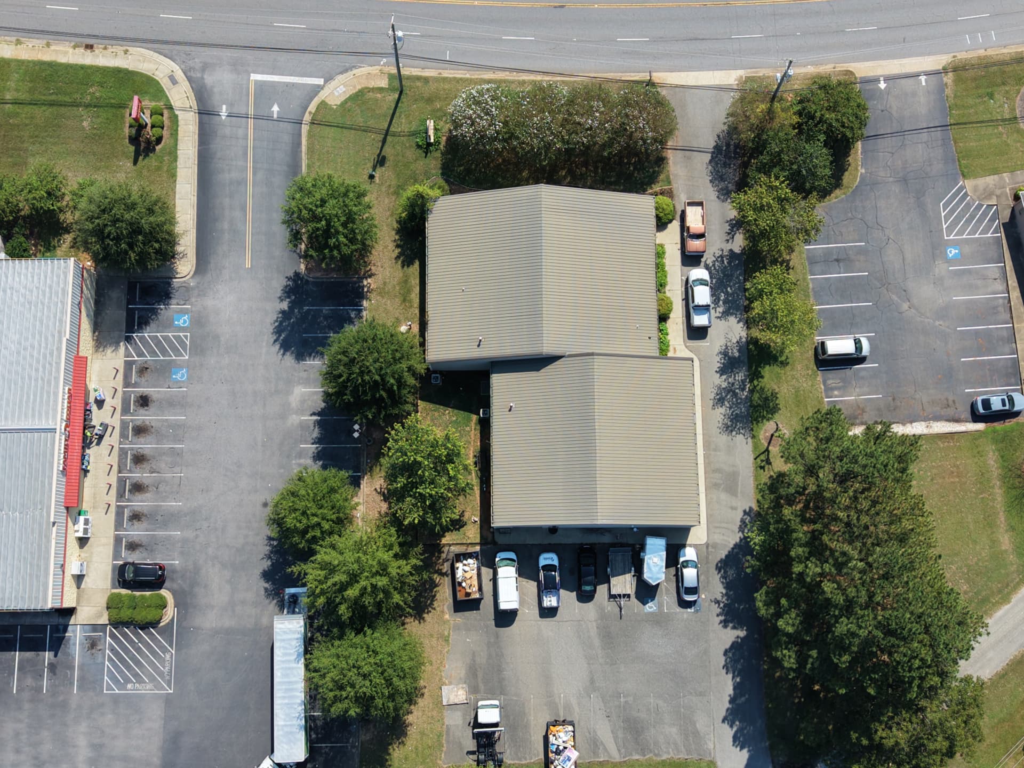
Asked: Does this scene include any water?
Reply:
No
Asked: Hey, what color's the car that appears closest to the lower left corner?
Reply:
black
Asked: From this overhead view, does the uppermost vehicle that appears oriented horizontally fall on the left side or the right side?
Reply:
right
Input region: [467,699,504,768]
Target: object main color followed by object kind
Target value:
white truck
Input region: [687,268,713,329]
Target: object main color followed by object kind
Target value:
white truck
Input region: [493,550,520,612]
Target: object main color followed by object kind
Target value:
white vehicle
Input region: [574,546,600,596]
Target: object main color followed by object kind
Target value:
black car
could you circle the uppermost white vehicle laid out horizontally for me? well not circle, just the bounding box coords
[814,334,871,361]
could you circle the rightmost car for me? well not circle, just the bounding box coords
[970,391,1024,419]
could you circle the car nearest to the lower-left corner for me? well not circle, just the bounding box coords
[117,561,169,588]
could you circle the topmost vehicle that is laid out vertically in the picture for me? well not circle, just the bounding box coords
[684,200,709,256]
